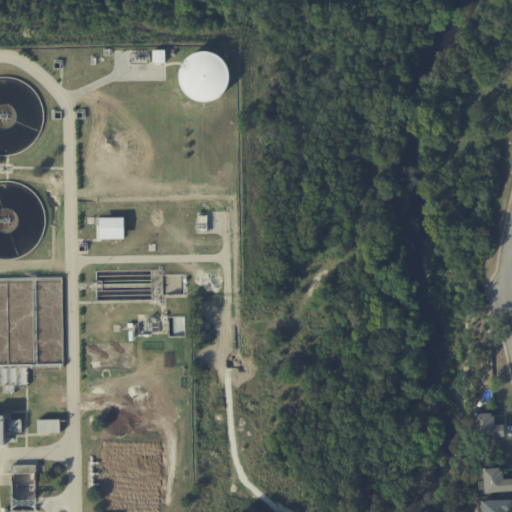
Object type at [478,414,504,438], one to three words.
house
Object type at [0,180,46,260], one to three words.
storage tank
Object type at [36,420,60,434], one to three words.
building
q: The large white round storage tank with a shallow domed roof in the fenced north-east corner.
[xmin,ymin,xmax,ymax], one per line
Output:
[178,50,229,102]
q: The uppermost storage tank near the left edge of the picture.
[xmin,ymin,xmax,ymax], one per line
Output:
[0,76,44,156]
